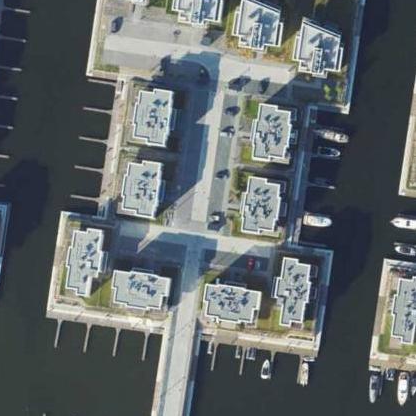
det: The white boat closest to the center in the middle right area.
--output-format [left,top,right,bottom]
[303,214,331,227]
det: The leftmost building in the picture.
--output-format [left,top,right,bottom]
[65,229,106,297]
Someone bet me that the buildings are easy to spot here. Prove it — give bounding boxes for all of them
[110,267,171,310]
[170,0,224,26]
[122,162,167,218]
[132,90,177,146]
[291,18,345,76]
[250,104,299,161]
[202,281,263,323]
[273,258,317,326]
[65,229,106,297]
[388,277,416,344]
[231,0,286,51]
[240,177,288,234]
